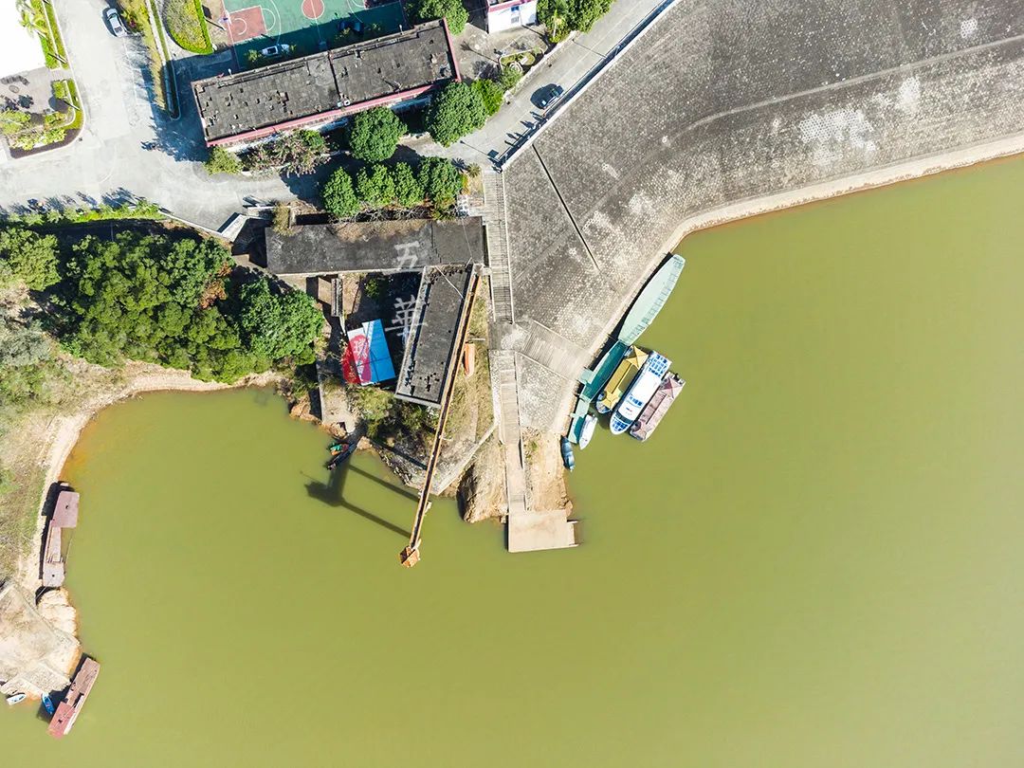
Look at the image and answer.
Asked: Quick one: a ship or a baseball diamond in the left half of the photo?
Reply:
ship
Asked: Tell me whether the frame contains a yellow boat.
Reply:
Yes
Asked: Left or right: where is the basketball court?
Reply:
left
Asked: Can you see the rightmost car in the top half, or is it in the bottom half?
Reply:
top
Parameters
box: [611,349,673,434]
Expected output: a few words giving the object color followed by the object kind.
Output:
white boat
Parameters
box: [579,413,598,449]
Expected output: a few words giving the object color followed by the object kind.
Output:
white boat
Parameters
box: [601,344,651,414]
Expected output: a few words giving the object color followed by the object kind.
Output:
yellow boat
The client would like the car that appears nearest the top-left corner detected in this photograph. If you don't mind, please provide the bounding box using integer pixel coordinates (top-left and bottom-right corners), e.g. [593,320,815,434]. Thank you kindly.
[107,8,129,37]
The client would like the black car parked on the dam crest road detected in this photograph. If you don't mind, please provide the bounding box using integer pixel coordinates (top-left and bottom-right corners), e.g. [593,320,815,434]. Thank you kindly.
[538,83,565,109]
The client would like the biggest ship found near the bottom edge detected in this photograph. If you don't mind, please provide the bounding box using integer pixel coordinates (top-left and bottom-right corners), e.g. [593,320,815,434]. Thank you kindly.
[49,655,103,736]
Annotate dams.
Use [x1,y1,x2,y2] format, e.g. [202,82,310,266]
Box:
[495,0,1024,423]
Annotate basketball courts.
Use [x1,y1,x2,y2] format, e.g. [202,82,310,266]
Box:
[218,0,408,69]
